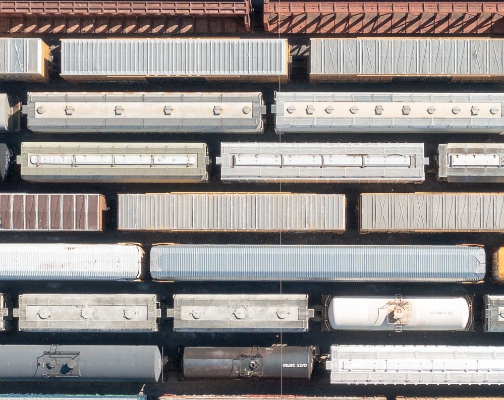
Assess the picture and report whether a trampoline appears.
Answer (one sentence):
No, I find no trampoline anywhere in the image.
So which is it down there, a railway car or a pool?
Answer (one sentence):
I can see a railway car in this picture.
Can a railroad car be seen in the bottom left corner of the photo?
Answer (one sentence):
Yes, the scene does show a railroad car in the bottom left corner of the photo.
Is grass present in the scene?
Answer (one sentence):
No, there's no grass in this view.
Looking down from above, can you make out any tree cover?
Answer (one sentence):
No, the scene doesn't show any tree cover.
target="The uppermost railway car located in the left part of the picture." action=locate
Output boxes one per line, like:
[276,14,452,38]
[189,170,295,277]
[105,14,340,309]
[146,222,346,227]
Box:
[0,0,259,35]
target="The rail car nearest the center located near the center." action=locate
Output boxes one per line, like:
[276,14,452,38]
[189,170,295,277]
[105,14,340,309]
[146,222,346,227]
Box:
[115,192,354,235]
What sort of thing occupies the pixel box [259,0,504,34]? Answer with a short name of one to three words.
rail car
